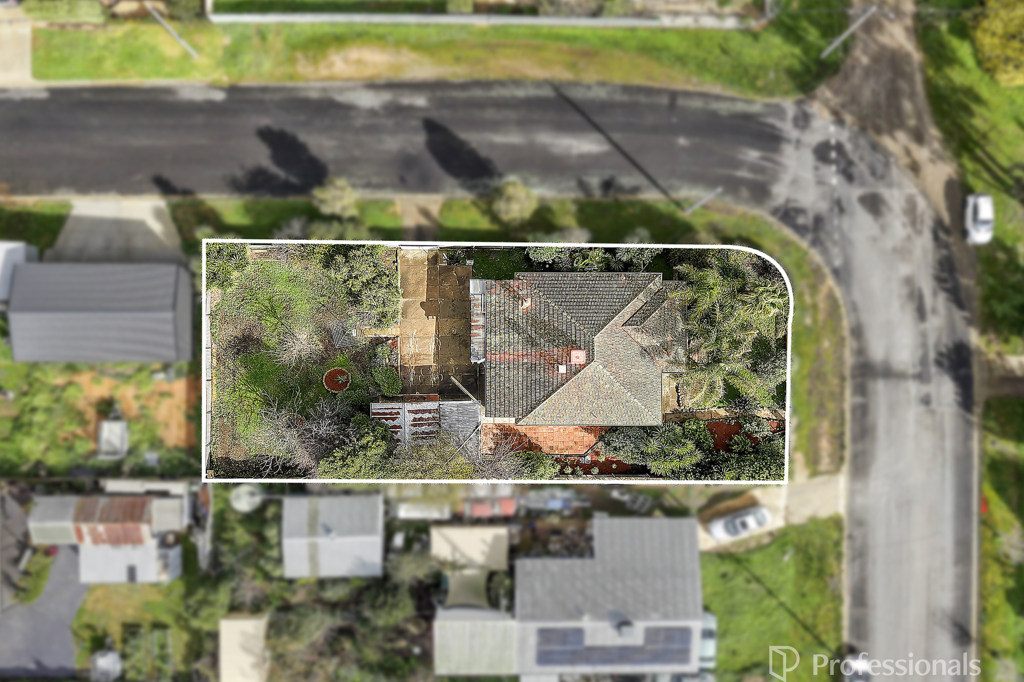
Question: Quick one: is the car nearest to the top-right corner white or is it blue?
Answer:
white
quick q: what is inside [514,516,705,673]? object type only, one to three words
house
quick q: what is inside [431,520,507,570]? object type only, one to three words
shed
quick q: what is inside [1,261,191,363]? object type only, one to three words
shed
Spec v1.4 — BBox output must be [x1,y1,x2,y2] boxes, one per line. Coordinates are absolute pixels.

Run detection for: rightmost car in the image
[961,191,994,246]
